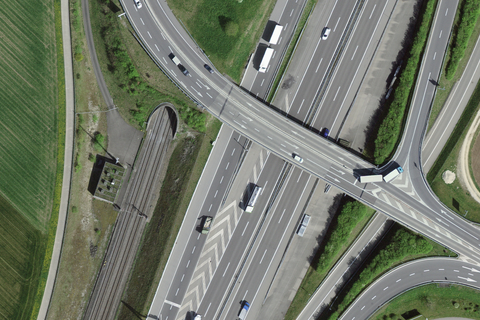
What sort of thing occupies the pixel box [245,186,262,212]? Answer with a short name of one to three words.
vehicle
